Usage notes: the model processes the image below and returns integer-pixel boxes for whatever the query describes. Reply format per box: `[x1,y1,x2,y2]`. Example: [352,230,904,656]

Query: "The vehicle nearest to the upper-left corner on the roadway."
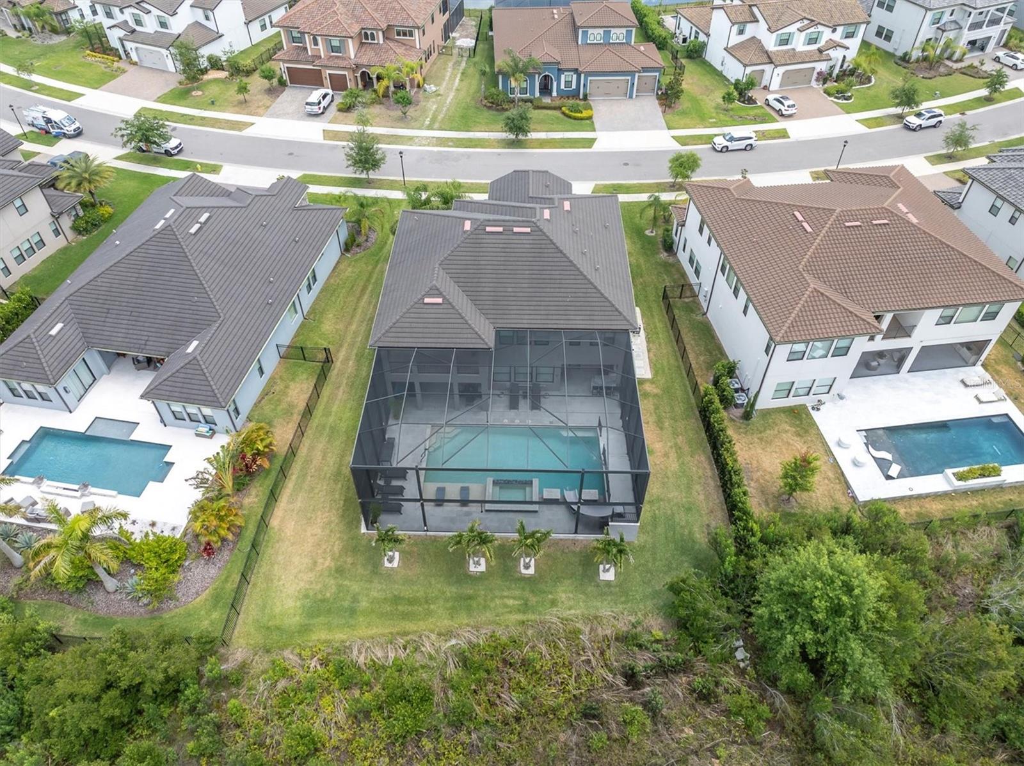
[22,100,80,138]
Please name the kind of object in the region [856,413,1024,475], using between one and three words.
swimming pool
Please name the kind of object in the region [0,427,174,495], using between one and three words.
swimming pool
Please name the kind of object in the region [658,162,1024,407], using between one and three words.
house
